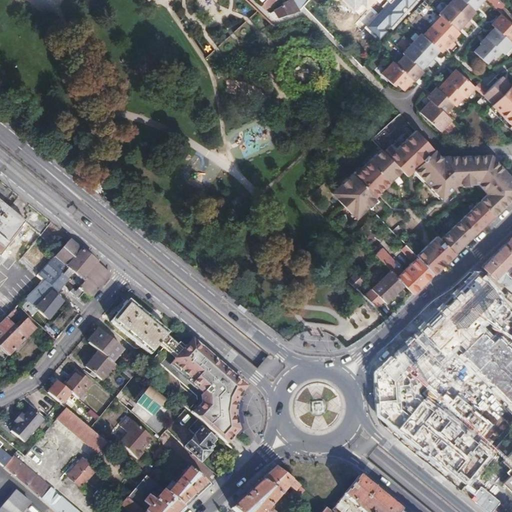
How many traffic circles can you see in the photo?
1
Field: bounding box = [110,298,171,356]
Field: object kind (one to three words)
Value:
building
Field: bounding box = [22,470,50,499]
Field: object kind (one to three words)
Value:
shed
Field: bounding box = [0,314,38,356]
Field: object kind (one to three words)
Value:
house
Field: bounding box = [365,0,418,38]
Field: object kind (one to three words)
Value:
building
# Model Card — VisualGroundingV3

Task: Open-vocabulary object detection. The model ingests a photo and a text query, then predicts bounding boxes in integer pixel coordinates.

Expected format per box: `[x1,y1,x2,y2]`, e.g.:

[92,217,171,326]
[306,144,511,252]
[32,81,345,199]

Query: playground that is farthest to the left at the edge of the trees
[190,150,222,182]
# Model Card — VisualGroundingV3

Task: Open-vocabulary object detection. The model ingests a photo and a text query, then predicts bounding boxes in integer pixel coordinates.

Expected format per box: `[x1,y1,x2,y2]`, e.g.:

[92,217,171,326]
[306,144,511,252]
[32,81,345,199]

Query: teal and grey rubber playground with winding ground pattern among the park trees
[228,119,275,160]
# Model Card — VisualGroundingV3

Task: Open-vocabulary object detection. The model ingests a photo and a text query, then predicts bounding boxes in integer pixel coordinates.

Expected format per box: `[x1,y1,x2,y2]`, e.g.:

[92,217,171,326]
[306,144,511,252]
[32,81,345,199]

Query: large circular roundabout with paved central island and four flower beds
[268,356,366,452]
